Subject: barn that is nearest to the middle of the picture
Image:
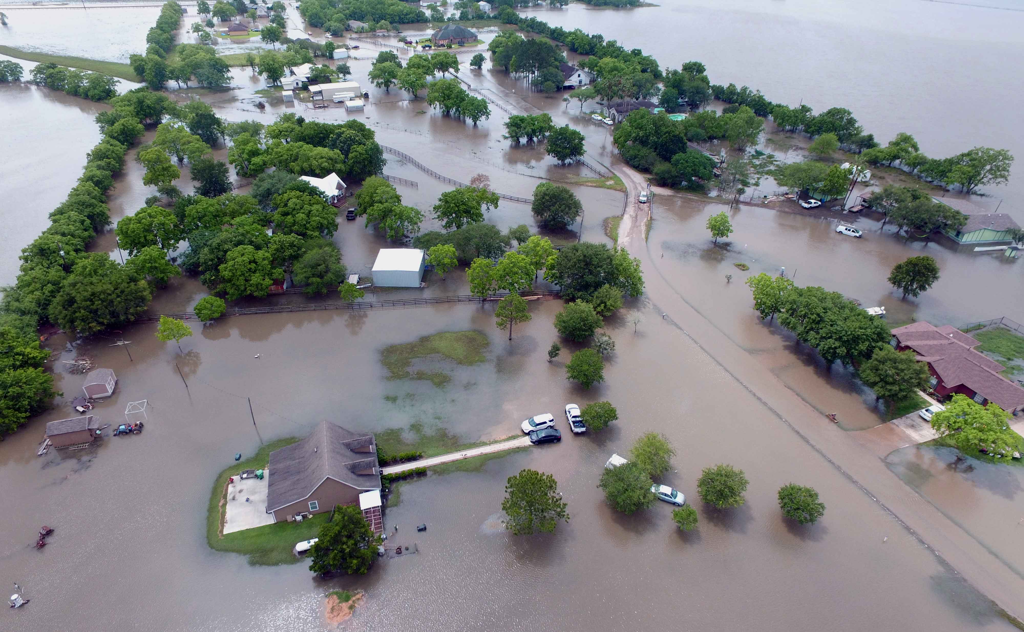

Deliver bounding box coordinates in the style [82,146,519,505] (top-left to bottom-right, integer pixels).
[371,246,428,288]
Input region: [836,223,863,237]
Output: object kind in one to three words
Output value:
vehicle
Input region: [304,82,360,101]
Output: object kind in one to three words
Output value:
building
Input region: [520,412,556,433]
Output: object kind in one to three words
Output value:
car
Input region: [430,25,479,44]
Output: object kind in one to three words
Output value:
house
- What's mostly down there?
water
